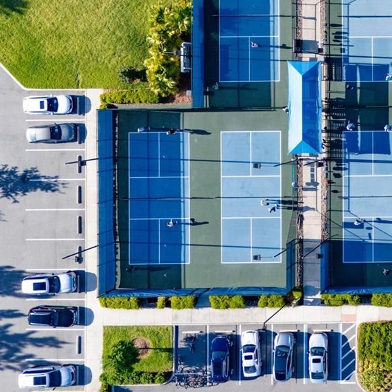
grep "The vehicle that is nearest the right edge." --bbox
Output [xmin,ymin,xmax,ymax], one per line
[305,332,329,384]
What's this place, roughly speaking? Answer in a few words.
sports ground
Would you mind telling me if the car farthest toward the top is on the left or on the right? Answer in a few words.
left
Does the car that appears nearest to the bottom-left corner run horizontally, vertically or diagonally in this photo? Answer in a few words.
horizontally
